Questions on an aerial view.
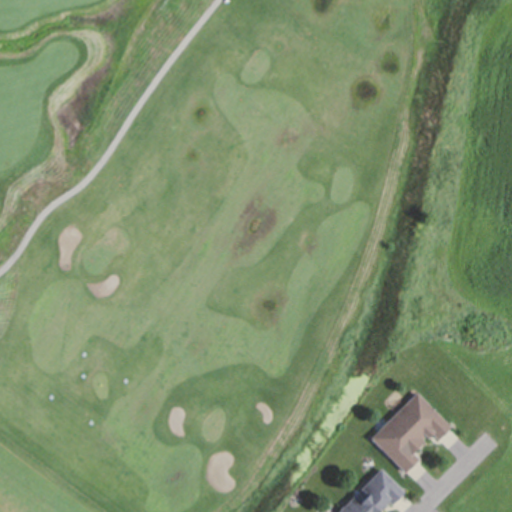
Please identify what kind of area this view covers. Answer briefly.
golf course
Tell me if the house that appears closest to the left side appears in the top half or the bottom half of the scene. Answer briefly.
bottom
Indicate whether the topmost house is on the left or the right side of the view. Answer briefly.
right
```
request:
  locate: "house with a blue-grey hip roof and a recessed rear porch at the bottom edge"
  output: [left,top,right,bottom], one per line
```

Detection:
[342,470,406,512]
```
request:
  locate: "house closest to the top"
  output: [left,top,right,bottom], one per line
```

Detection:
[372,395,452,474]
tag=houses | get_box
[342,470,406,512]
[372,395,452,474]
